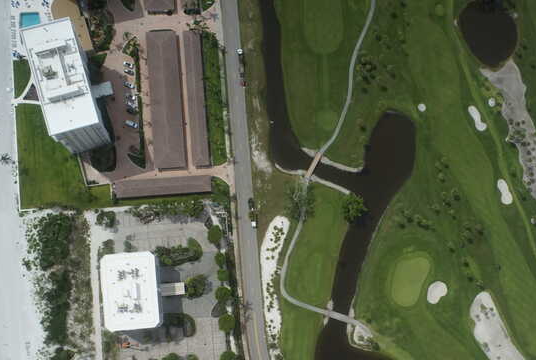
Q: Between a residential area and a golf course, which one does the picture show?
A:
golf course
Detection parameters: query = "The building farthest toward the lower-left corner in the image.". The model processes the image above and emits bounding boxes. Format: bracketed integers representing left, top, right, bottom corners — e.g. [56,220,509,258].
[100,251,162,332]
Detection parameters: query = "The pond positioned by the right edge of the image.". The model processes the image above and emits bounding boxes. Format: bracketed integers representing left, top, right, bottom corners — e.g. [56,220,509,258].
[459,0,518,69]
